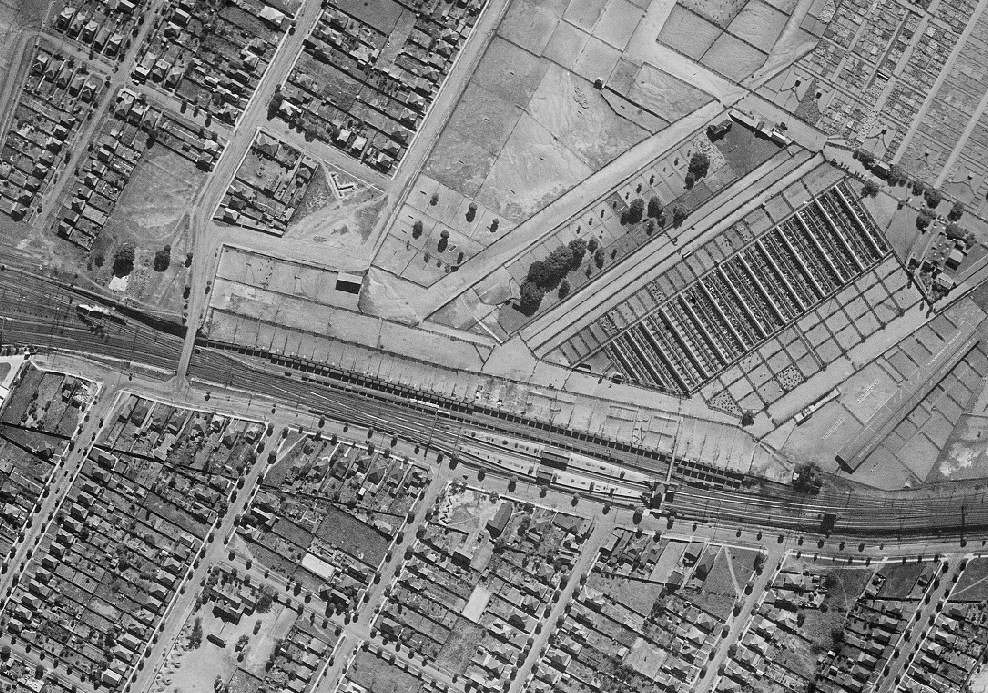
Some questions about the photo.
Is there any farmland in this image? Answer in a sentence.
Yes, farmland can be seen from above here.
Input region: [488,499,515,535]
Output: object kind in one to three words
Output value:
building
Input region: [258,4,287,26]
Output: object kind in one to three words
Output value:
house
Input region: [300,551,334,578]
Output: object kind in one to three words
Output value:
building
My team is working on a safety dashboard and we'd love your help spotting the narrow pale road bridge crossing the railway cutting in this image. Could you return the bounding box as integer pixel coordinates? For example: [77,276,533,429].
[175,319,195,386]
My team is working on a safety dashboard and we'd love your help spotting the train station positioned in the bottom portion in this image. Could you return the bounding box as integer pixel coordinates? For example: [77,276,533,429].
[458,430,652,498]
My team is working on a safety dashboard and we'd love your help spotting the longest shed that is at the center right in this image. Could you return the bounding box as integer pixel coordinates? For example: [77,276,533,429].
[832,328,976,464]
